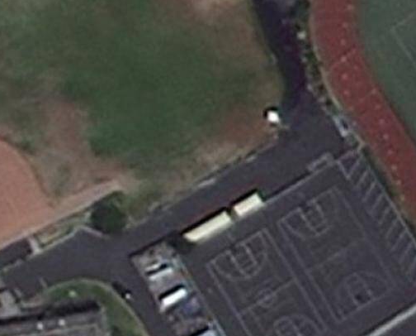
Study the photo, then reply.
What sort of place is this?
sports ground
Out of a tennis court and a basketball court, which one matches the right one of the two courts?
basketball court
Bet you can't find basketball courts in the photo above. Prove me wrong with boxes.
[209,231,325,336]
[277,186,393,320]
